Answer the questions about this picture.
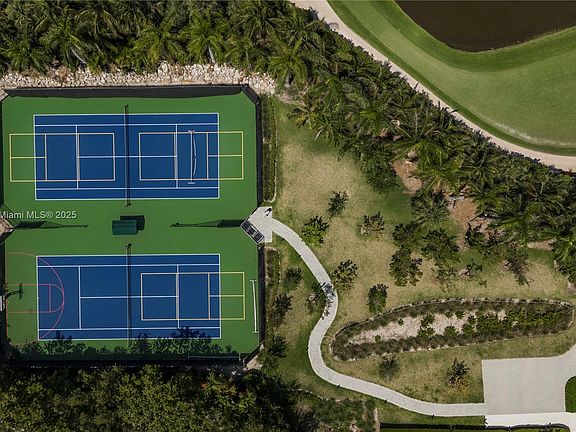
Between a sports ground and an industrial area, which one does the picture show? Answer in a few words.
sports ground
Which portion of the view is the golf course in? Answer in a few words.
top right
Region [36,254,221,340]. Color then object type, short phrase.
blue tennis court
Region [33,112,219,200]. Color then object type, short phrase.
blue tennis court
